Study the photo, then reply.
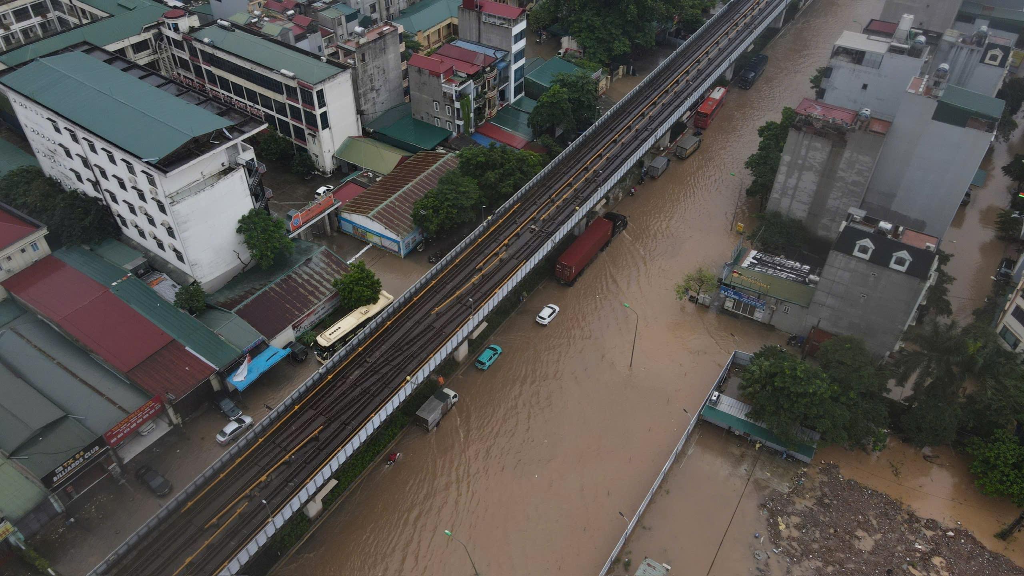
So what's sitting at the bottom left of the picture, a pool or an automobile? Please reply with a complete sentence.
Looking at the bottom left of the picture, you will find an automobile.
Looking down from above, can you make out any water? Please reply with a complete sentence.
Yes, some water is visible.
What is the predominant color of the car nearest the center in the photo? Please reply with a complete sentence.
From above, the car nearest the center appears white.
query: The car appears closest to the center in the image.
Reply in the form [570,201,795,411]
[533,306,561,328]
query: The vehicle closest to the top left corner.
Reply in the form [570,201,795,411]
[312,186,338,201]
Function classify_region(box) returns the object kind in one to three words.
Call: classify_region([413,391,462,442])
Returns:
truck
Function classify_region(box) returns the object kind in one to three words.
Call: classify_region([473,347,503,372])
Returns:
car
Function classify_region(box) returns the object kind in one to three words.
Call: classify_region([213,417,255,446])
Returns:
car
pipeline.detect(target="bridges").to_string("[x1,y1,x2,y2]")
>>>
[85,0,796,576]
